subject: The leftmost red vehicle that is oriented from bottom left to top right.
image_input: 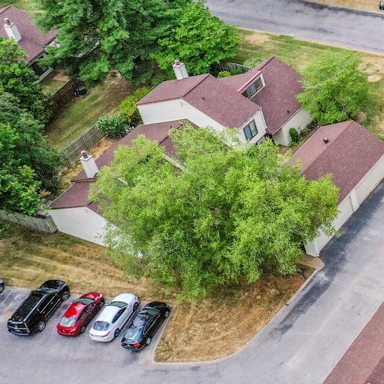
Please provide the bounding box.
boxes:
[54,295,105,339]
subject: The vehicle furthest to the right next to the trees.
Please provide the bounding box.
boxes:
[118,303,169,351]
